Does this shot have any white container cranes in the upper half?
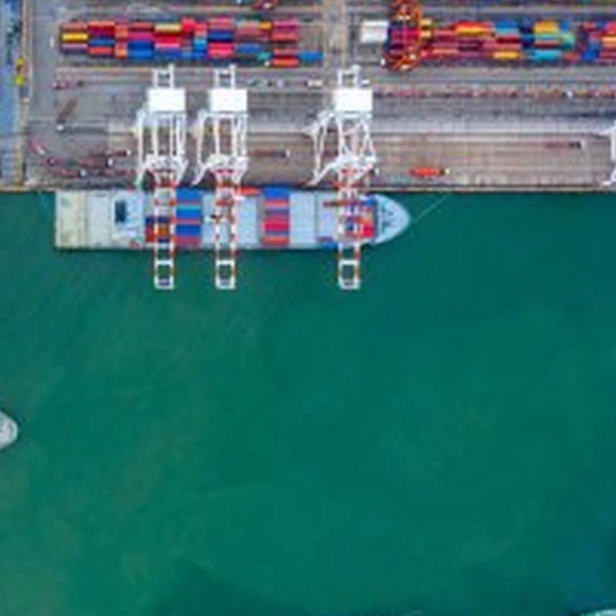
Yes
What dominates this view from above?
water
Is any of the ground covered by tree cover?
No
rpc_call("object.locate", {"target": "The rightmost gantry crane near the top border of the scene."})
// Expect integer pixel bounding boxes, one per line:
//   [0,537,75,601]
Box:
[383,0,421,73]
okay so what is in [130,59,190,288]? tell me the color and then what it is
white container crane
